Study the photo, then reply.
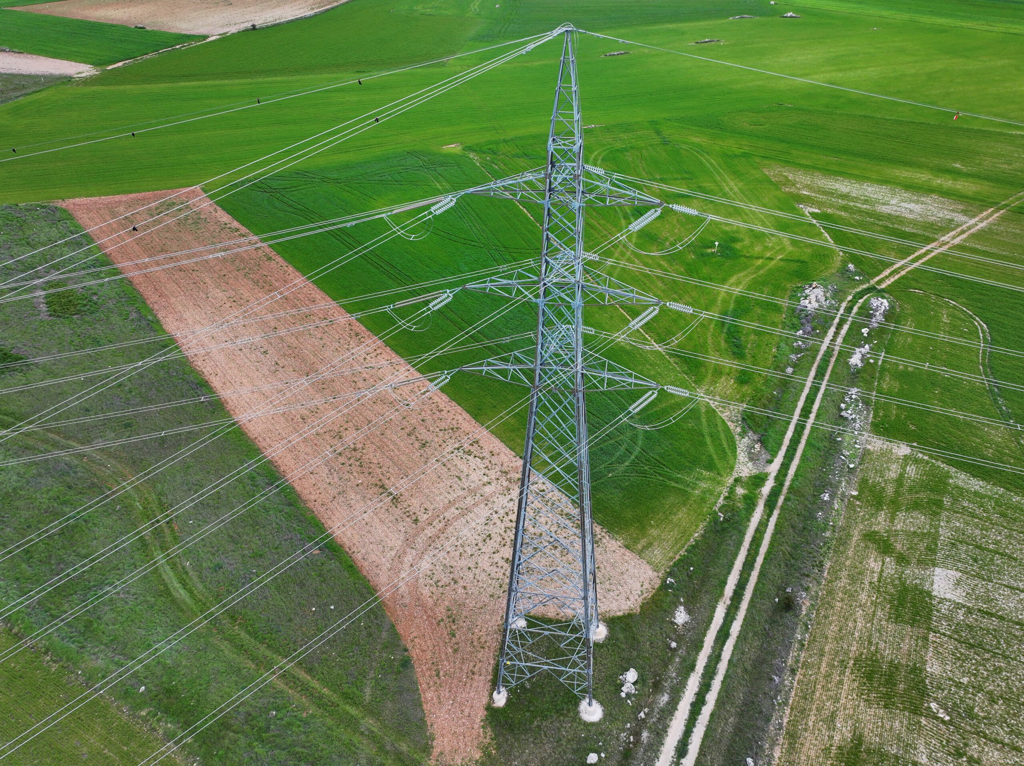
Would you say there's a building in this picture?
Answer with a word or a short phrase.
No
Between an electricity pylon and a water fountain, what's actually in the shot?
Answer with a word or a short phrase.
electricity pylon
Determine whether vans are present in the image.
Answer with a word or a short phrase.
No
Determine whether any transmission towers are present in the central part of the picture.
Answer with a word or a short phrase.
Yes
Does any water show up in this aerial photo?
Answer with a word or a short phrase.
No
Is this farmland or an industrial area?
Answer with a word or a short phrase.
farmland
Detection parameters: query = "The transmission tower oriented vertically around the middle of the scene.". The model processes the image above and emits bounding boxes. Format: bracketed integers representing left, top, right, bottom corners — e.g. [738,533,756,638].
[459,24,663,717]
